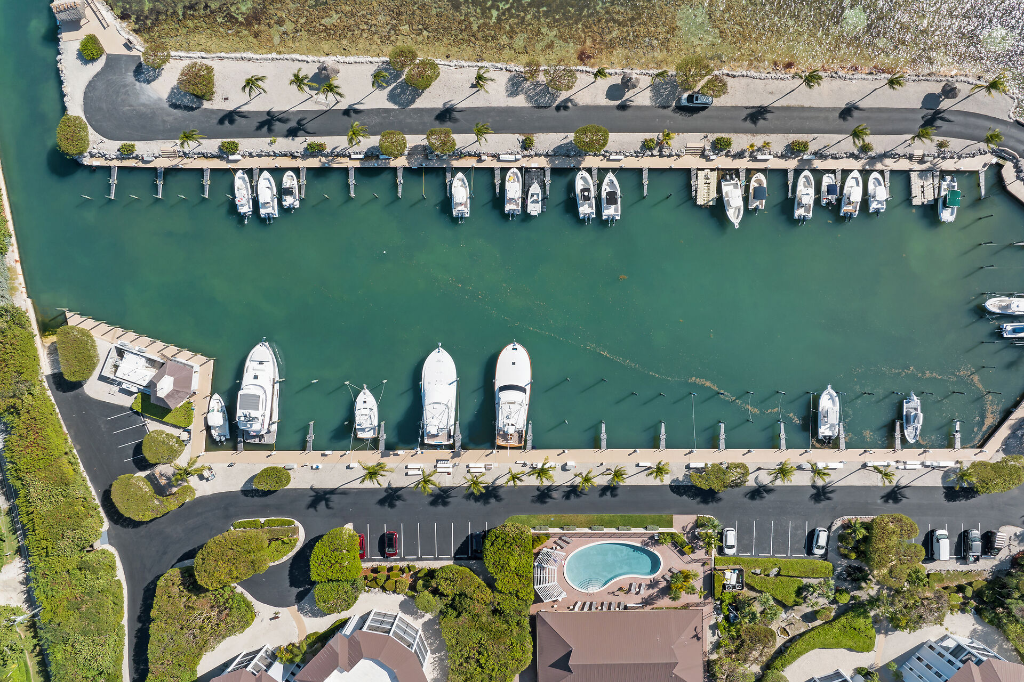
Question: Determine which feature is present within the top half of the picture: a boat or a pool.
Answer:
boat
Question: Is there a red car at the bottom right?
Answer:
No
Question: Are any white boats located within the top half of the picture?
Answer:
Yes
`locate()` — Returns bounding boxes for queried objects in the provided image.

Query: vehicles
[180,427,193,442]
[384,529,398,558]
[681,93,711,108]
[356,531,368,558]
[811,527,827,555]
[202,466,219,479]
[985,529,1006,557]
[722,526,736,554]
[471,530,485,558]
[930,528,950,563]
[962,528,981,564]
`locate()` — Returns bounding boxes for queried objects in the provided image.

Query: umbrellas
[938,81,957,101]
[619,71,640,92]
[317,59,338,80]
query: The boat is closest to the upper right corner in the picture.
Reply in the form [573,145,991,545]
[938,177,960,221]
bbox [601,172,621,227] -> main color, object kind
white boat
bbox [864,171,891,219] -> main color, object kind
white boat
